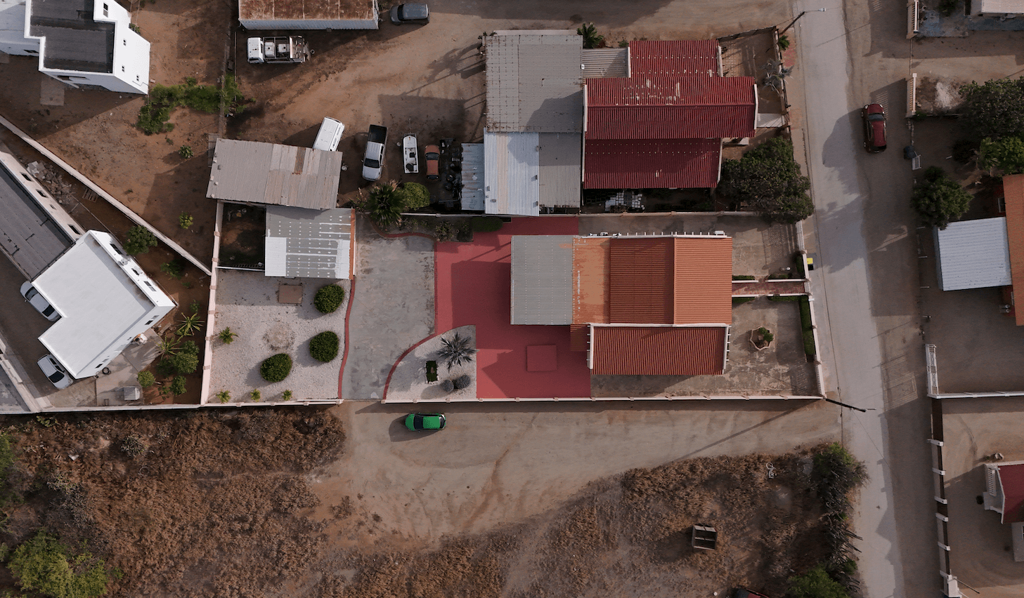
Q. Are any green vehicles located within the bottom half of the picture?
Yes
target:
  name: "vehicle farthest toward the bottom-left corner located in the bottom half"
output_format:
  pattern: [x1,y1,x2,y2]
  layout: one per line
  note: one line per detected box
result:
[32,352,74,392]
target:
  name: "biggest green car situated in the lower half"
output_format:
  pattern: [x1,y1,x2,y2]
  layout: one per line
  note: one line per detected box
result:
[406,412,447,433]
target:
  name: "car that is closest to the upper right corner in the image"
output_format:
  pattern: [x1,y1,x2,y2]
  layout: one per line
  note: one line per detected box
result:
[860,104,887,153]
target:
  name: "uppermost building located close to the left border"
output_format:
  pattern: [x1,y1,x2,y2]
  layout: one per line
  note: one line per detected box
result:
[25,0,150,93]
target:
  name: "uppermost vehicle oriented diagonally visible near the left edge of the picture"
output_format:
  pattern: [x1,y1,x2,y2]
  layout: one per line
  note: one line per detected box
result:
[18,281,62,327]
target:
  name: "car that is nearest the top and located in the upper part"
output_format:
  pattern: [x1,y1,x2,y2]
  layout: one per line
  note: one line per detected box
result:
[390,1,431,26]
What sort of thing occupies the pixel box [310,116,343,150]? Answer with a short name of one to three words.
van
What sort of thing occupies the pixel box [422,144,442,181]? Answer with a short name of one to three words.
car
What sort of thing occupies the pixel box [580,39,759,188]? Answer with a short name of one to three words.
house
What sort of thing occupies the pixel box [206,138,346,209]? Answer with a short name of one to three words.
shed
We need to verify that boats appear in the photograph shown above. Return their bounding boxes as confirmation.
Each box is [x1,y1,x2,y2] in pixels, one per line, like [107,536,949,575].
[402,134,418,174]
